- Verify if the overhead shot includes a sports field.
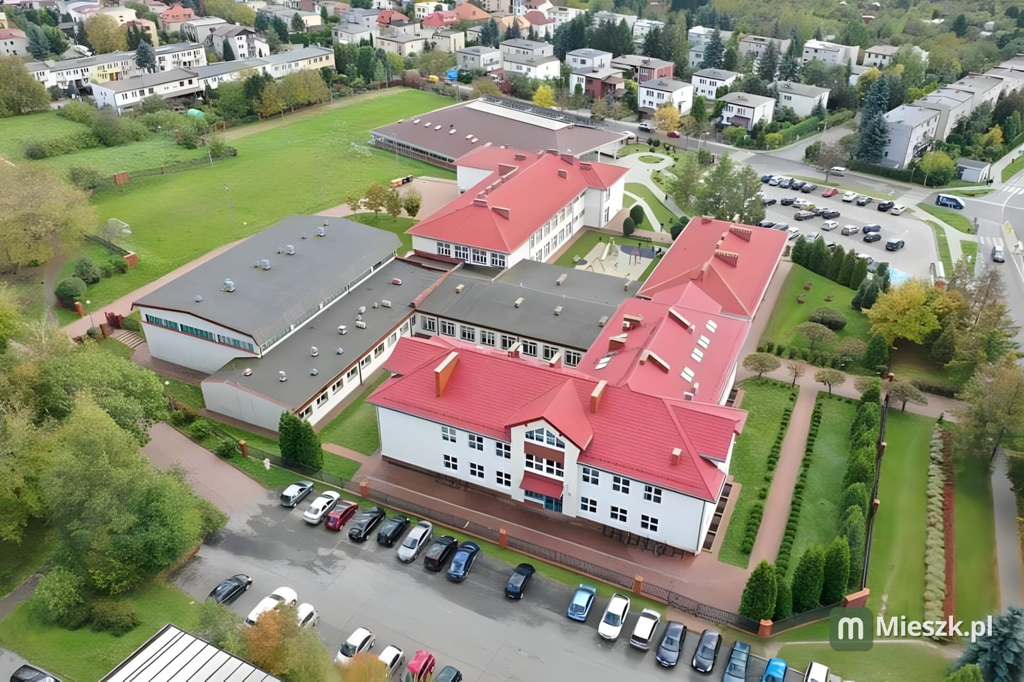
Yes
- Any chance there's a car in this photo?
Yes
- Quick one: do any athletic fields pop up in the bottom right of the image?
No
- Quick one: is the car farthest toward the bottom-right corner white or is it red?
white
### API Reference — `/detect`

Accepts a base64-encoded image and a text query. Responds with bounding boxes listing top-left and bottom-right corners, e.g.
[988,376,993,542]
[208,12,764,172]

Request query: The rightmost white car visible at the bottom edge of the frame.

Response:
[799,655,833,682]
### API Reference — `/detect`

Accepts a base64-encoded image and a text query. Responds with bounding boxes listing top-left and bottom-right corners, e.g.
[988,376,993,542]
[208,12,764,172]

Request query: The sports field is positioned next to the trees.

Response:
[57,88,457,331]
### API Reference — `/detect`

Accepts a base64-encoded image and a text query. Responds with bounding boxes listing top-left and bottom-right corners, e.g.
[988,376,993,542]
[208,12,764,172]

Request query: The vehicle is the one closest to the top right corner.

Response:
[932,190,968,211]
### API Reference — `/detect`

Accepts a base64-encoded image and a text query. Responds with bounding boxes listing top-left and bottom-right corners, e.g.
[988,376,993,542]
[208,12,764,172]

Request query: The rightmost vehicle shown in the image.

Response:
[989,247,1005,263]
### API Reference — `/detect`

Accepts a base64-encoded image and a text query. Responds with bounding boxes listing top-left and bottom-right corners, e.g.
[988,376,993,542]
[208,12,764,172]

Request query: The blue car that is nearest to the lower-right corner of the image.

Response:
[760,654,794,682]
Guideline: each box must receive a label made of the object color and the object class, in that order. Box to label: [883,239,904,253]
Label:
gray car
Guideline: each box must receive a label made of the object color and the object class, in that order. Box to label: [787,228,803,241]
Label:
white vehicle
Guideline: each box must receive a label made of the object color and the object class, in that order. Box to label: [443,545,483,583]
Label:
blue car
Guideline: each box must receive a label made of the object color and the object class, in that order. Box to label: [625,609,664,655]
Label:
white car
